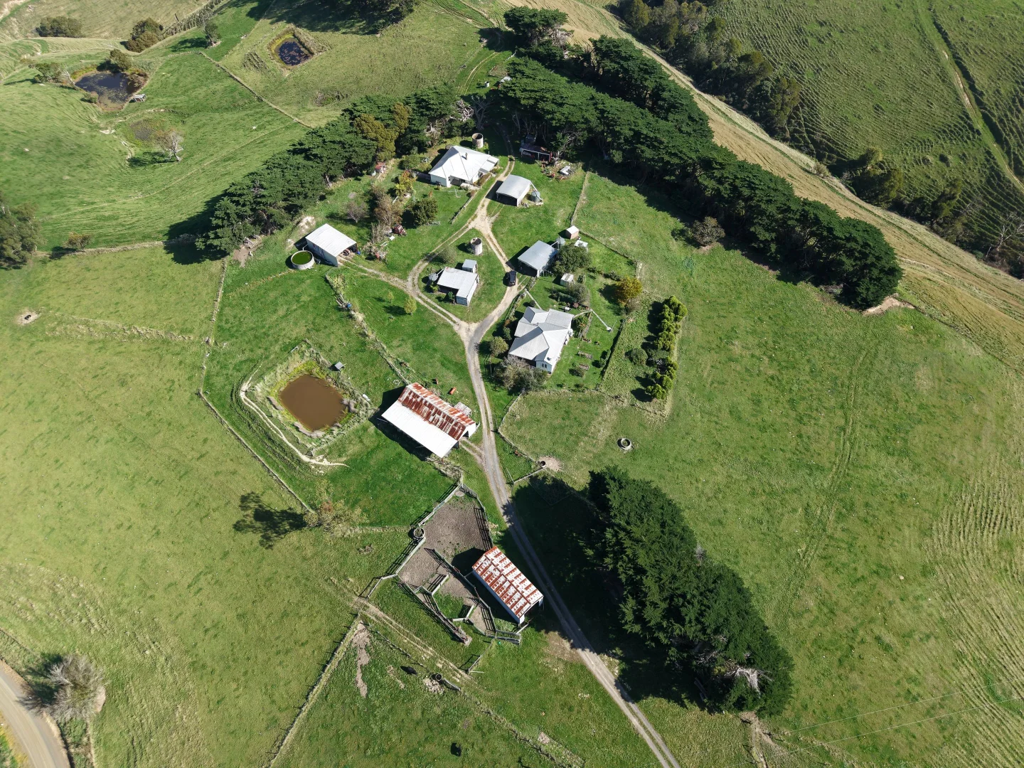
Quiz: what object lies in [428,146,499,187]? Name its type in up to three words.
house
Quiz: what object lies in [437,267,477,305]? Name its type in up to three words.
shed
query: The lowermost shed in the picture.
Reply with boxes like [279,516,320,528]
[471,546,545,623]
